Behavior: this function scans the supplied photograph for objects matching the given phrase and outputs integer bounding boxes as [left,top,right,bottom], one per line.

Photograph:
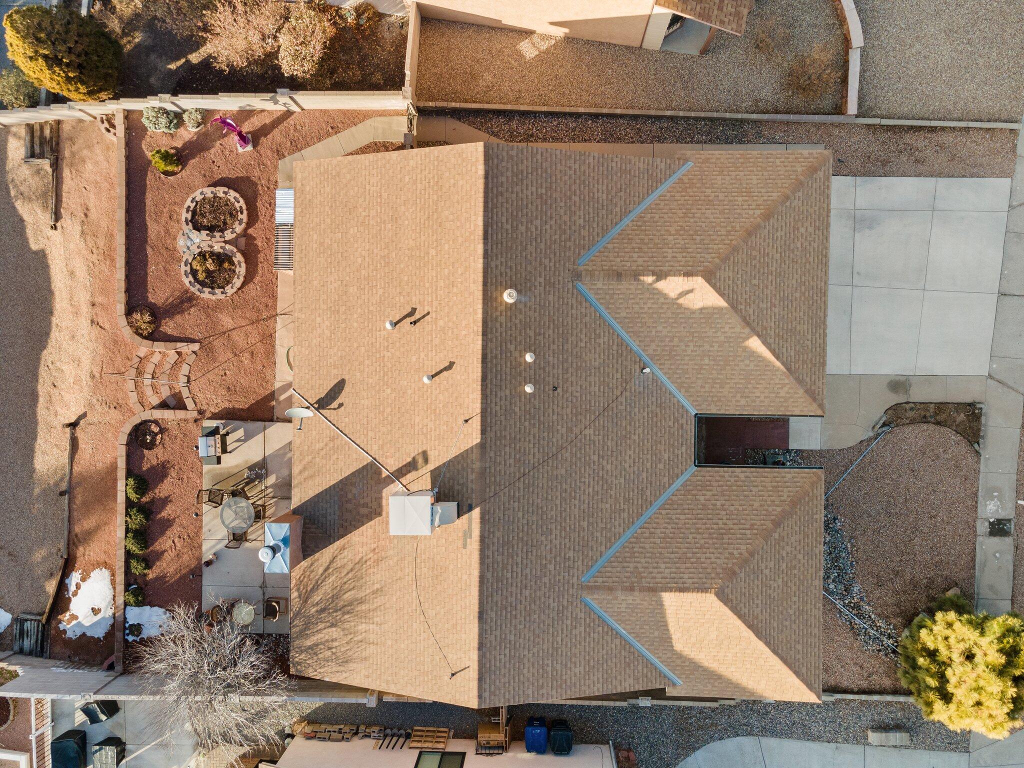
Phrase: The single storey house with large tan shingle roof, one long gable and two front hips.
[263,140,835,709]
